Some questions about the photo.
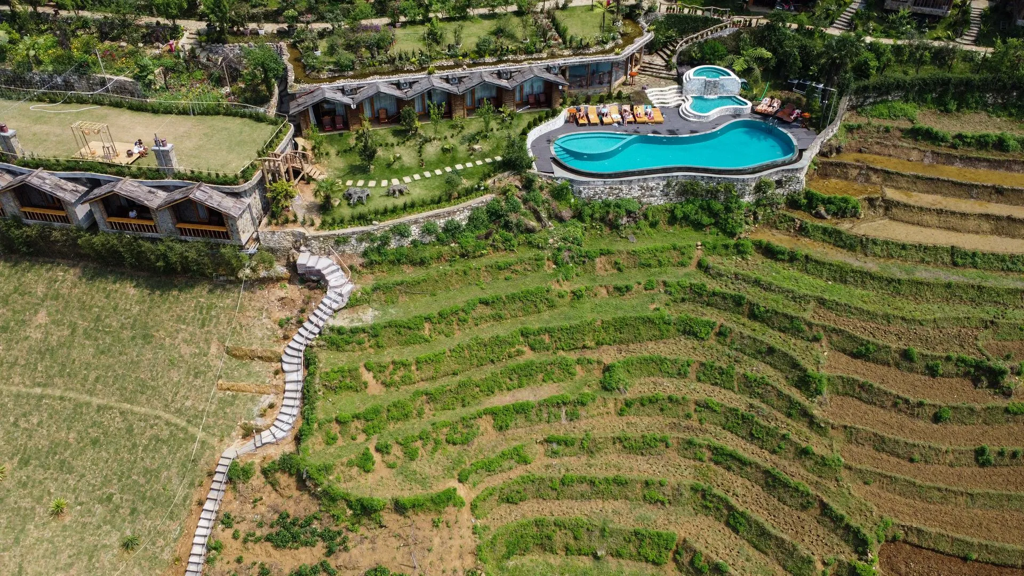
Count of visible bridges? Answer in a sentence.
In total, there is 1 bridge in the scene.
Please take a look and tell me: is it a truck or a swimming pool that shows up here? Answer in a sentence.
The image shows a swimming pool.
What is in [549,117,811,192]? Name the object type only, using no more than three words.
swimming pool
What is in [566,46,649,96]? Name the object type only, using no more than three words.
building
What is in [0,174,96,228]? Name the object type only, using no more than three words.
house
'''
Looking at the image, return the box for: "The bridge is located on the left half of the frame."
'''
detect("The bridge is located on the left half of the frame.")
[254,145,337,193]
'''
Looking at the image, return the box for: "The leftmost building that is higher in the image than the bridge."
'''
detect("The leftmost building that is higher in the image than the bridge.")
[296,84,358,144]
